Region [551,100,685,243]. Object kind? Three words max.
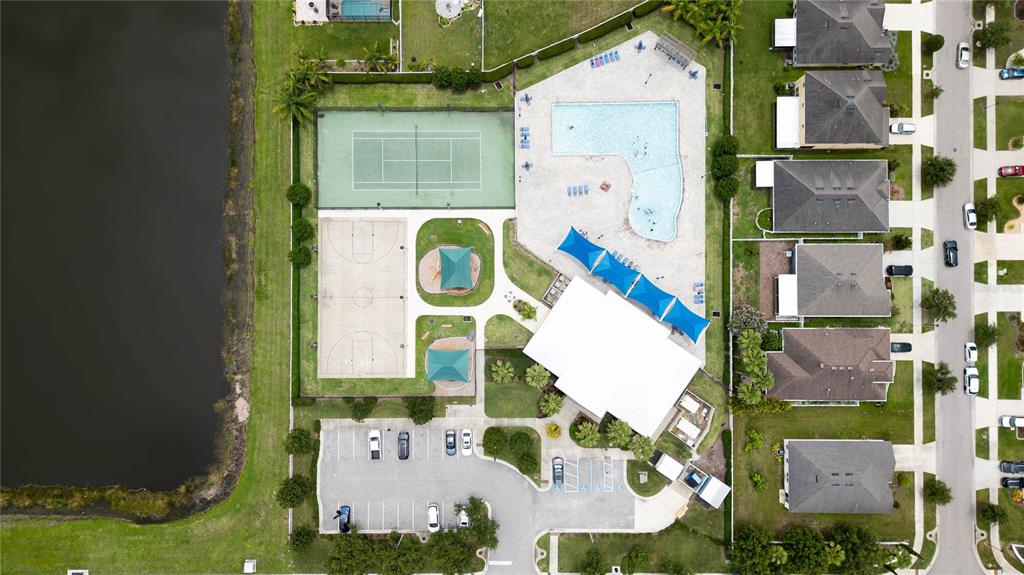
swimming pool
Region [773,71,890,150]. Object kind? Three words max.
house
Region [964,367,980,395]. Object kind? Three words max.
car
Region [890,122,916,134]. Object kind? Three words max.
vehicle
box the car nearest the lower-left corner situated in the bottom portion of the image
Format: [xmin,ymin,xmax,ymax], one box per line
[333,505,351,533]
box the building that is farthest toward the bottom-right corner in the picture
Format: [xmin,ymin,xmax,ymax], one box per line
[783,439,895,513]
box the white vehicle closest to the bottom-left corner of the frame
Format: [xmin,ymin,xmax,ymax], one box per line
[368,430,381,461]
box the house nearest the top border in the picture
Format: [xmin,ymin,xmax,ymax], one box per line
[771,0,893,68]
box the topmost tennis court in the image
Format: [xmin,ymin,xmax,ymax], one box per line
[318,111,515,208]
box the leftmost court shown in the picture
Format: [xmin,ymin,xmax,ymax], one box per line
[318,217,407,374]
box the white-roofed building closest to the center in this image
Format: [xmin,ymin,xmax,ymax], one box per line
[522,276,703,440]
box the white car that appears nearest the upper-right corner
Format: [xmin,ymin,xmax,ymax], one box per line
[956,42,971,69]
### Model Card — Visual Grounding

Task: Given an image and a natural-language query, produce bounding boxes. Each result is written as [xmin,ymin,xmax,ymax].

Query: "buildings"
[695,470,731,509]
[651,449,684,481]
[773,71,890,150]
[676,417,700,439]
[771,0,893,68]
[783,439,895,513]
[752,161,893,233]
[774,244,892,316]
[522,276,703,440]
[762,328,894,401]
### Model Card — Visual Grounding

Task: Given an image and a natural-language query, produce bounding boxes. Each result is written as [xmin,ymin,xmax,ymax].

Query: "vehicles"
[886,264,915,277]
[998,165,1024,177]
[964,342,978,363]
[397,432,409,459]
[956,42,971,69]
[891,342,914,354]
[890,122,916,134]
[942,239,958,266]
[368,430,381,461]
[963,203,978,230]
[333,505,351,533]
[964,367,980,395]
[998,416,1024,429]
[457,503,469,530]
[552,458,564,485]
[426,504,439,531]
[999,461,1024,474]
[1000,477,1024,490]
[998,66,1024,80]
[445,429,457,456]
